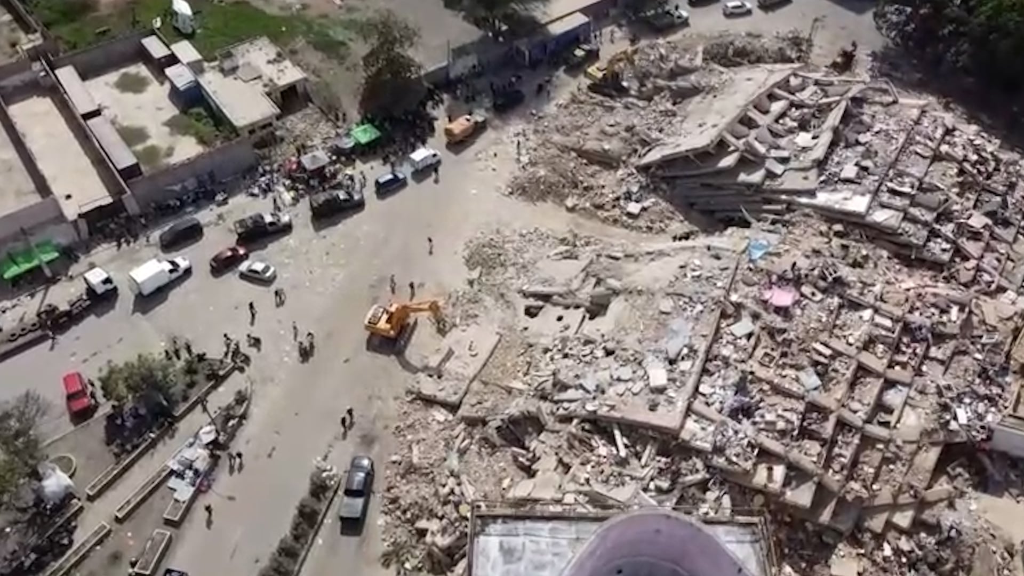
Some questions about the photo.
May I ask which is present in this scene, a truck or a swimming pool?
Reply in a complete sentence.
Of the two, only a truck appears.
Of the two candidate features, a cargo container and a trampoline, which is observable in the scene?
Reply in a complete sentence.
It is a cargo container that can be seen here.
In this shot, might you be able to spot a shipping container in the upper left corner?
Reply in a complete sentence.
Yes, in the upper left corner there is a shipping container.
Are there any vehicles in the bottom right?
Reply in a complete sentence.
No, no vehicle can be made out in the bottom right.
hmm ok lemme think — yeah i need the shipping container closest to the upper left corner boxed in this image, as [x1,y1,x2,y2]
[55,65,103,127]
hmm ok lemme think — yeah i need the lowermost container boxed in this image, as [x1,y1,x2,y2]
[87,116,147,184]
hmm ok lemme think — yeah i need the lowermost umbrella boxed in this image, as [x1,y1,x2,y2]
[199,425,219,445]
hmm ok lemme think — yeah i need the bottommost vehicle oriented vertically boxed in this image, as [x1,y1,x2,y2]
[342,458,372,520]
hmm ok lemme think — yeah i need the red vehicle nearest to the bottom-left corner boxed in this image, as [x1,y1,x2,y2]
[60,371,95,419]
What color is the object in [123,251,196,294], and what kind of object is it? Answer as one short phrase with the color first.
white truck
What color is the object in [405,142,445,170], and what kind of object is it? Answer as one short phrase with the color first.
white van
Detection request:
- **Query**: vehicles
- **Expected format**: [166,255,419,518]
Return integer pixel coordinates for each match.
[236,262,280,284]
[362,314,445,353]
[305,184,368,220]
[562,37,604,68]
[372,172,411,195]
[642,8,691,36]
[0,276,119,355]
[207,246,252,273]
[342,458,372,520]
[720,1,754,17]
[123,251,196,294]
[146,562,204,576]
[60,371,95,419]
[405,142,445,170]
[584,46,633,101]
[157,221,208,253]
[441,105,491,144]
[230,209,294,246]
